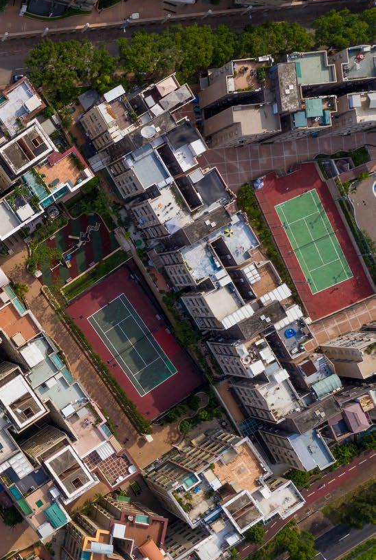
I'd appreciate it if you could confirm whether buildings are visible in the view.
Yes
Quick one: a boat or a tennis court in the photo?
tennis court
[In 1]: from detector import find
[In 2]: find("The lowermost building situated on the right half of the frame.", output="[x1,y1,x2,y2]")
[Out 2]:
[146,427,306,560]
